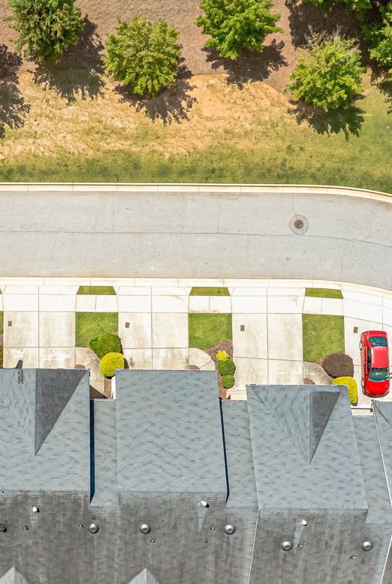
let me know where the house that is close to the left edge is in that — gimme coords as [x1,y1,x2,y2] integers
[0,368,120,584]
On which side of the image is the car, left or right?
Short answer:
right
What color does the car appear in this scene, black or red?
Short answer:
red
